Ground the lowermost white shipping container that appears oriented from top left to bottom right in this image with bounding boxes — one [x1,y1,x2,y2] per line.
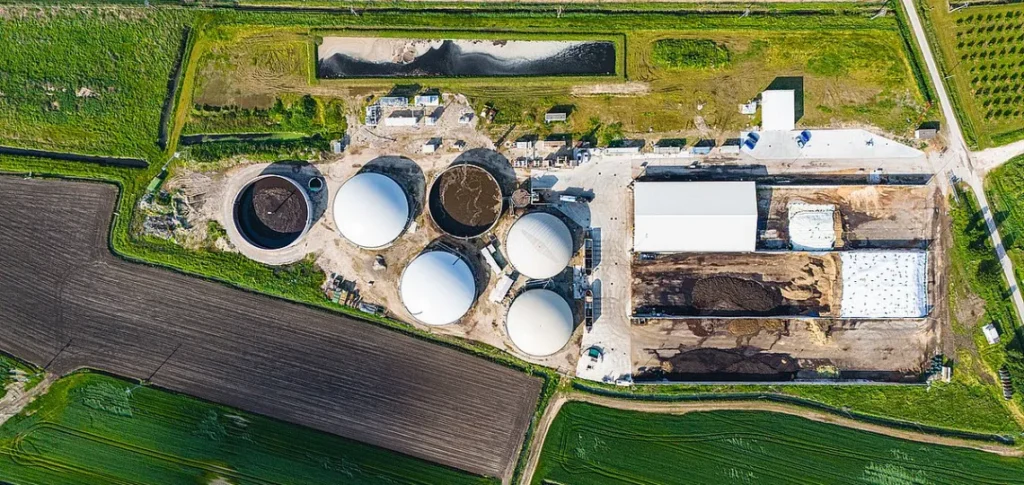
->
[479,246,504,276]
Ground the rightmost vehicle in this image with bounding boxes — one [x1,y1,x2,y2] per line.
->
[794,135,808,150]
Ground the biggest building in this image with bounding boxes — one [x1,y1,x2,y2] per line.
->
[632,178,759,253]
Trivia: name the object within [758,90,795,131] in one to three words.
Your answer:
shed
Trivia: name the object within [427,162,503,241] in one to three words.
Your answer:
storage tank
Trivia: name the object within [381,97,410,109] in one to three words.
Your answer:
building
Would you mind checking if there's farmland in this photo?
Yes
